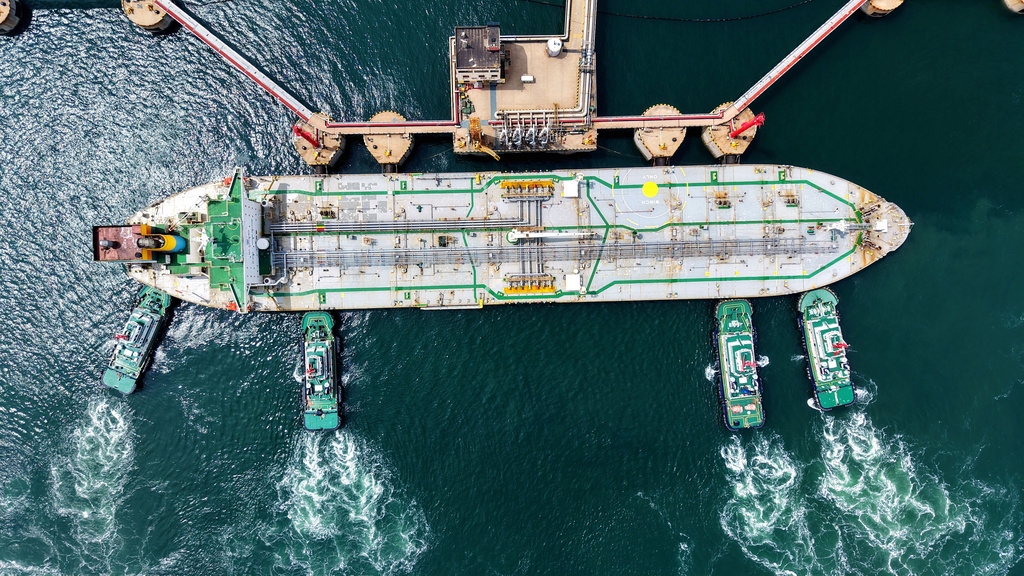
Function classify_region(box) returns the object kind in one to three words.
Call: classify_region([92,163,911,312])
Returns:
ship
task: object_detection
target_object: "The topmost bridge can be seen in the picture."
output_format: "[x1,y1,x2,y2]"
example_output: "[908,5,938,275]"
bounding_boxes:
[566,0,598,37]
